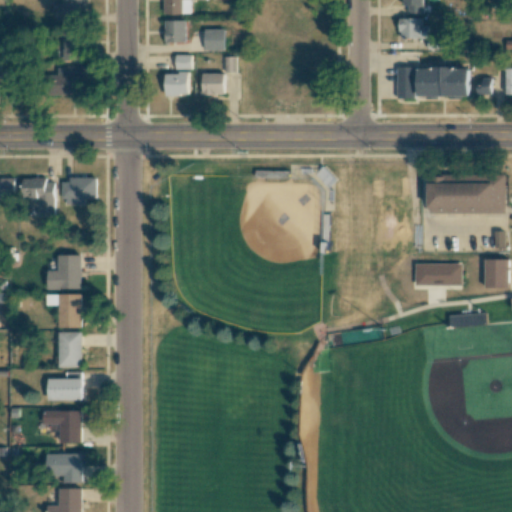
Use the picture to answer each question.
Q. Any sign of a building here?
Yes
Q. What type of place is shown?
sports ground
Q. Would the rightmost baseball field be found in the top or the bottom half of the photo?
bottom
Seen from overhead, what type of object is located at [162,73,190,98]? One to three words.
house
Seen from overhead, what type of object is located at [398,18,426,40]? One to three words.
house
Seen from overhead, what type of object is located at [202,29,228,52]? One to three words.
building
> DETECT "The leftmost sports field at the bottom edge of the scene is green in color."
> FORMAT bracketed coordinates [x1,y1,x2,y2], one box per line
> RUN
[156,326,311,512]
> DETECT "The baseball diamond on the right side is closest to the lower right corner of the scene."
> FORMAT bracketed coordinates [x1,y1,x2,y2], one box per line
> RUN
[298,320,512,512]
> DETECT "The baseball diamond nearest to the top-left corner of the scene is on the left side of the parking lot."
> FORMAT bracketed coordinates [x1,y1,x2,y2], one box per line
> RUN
[170,176,322,334]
